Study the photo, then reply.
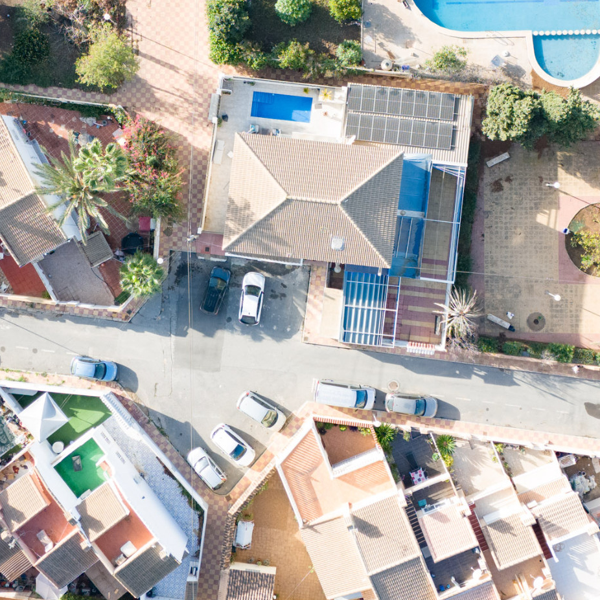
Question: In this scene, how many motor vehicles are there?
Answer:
eight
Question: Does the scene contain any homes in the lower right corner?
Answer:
Yes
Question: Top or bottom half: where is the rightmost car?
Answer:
bottom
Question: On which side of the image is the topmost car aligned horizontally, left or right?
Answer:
left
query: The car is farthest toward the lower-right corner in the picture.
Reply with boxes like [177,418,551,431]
[383,389,441,421]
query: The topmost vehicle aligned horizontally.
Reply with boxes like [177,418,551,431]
[64,353,123,384]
